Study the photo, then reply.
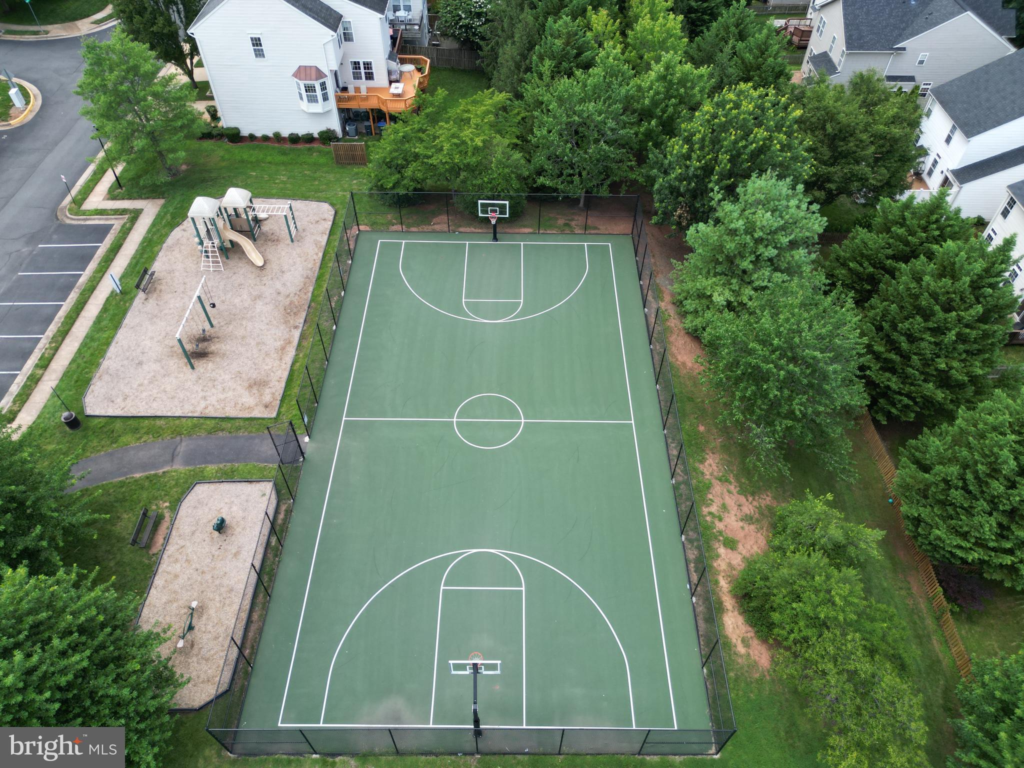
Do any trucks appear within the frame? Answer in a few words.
No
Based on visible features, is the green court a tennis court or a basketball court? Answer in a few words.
basketball court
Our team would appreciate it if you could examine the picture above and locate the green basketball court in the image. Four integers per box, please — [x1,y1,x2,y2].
[236,232,719,756]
